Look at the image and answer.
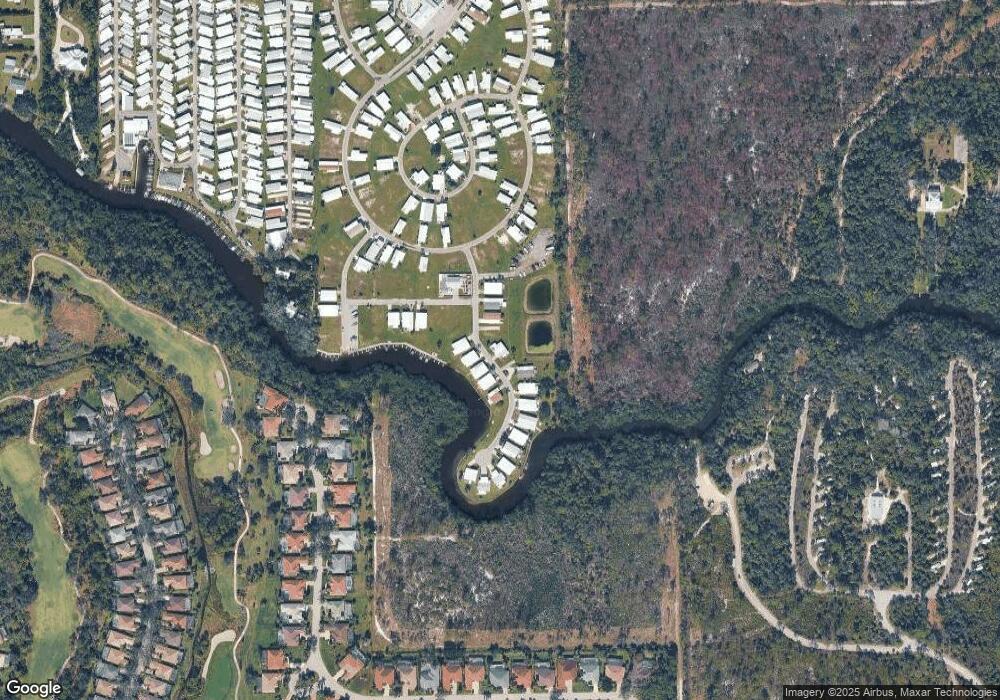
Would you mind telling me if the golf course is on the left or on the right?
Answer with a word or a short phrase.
left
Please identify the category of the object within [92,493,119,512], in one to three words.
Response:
house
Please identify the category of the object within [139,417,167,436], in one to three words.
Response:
house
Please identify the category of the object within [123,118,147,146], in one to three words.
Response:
building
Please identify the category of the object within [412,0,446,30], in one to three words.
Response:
building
